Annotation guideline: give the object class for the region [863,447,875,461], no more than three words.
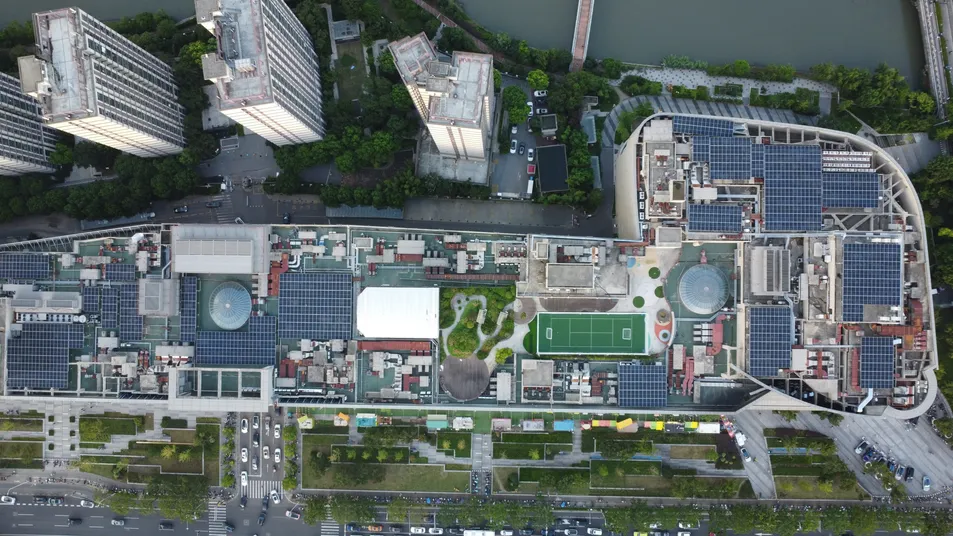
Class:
vehicle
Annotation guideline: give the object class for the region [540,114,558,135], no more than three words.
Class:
building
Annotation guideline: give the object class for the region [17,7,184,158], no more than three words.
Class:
building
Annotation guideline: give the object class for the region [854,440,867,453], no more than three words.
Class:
vehicle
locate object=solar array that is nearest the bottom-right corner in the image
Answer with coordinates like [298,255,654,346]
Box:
[859,338,893,388]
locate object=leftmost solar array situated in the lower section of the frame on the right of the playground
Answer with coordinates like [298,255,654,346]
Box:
[750,307,790,376]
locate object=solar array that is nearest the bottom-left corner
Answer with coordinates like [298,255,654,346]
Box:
[7,324,86,388]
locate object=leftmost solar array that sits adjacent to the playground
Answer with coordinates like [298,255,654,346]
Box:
[620,365,667,407]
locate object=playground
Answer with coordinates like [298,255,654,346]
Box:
[611,247,682,356]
